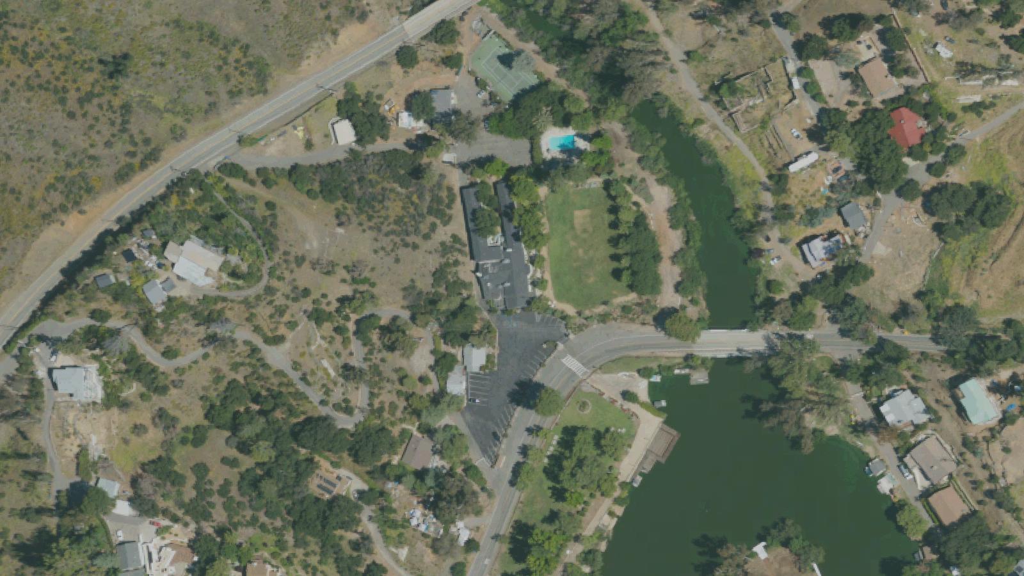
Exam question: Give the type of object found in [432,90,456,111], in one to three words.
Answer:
building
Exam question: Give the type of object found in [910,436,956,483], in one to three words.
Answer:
house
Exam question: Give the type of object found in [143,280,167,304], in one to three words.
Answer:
house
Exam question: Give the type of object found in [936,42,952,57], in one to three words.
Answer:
vehicle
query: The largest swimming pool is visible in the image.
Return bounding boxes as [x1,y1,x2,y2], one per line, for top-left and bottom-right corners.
[542,126,591,159]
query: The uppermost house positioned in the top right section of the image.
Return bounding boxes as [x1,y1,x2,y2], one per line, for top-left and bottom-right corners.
[859,59,898,97]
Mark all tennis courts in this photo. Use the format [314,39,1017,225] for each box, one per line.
[472,35,538,99]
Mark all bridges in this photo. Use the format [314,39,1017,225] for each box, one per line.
[690,330,766,357]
